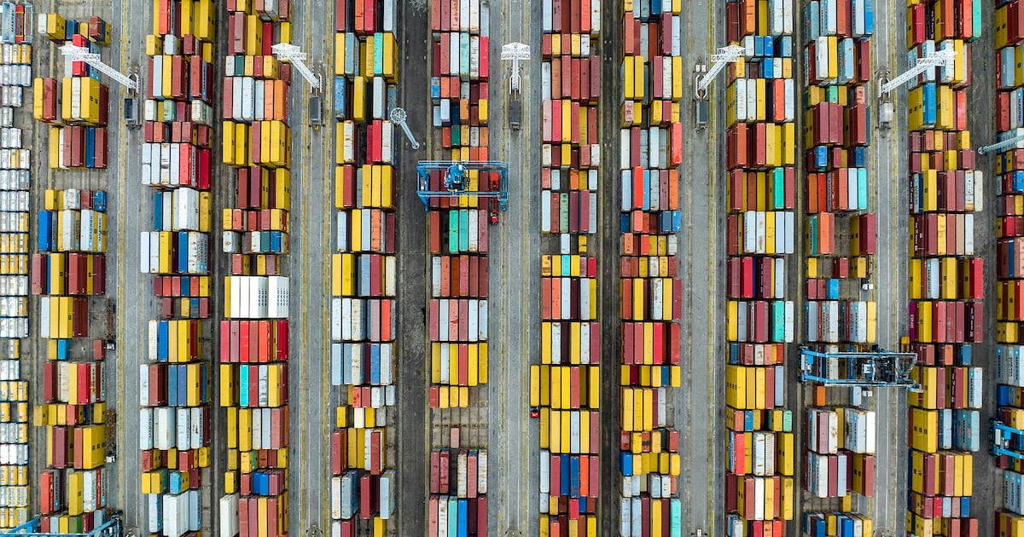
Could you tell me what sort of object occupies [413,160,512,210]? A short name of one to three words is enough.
container crane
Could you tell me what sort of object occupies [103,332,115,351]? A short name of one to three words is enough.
vehicle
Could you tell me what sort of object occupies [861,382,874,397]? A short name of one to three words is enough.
vehicle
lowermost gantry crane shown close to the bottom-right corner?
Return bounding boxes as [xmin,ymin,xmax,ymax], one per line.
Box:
[992,421,1024,462]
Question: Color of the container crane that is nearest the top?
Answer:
blue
